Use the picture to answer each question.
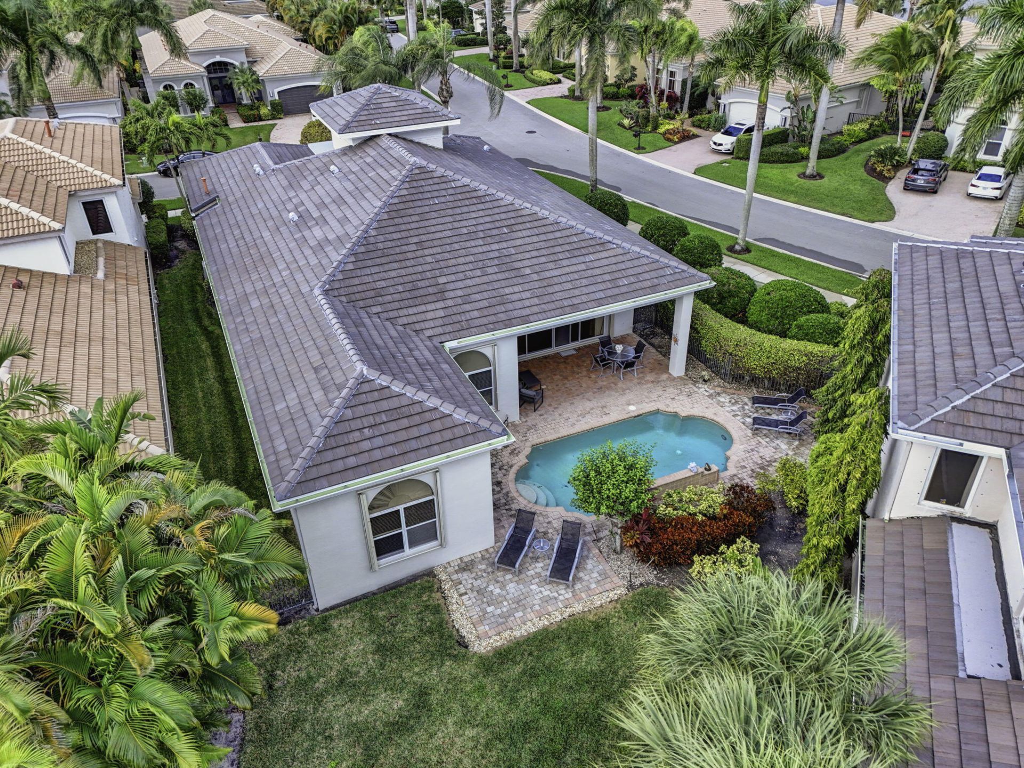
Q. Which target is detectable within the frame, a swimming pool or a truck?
swimming pool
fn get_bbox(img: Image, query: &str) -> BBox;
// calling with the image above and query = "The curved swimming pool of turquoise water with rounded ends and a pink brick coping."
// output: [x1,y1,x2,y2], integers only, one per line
[504,403,743,521]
